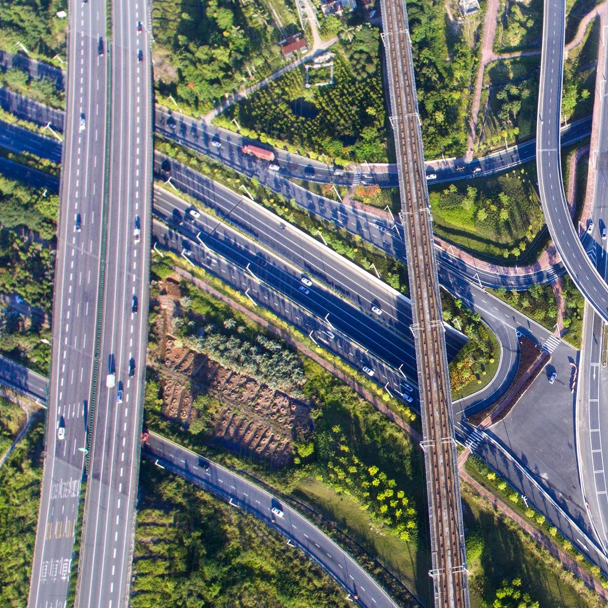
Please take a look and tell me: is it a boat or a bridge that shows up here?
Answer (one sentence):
This aerial view contains a bridge.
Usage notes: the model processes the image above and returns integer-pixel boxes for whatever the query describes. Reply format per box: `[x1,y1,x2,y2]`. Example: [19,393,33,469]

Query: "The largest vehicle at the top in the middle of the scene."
[245,145,274,160]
